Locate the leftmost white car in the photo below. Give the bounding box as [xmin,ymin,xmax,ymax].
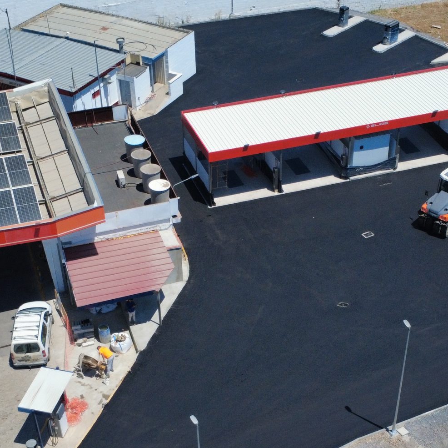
[8,302,53,362]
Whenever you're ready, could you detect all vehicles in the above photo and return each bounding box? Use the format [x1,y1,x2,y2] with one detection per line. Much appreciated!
[413,163,448,234]
[8,302,53,362]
